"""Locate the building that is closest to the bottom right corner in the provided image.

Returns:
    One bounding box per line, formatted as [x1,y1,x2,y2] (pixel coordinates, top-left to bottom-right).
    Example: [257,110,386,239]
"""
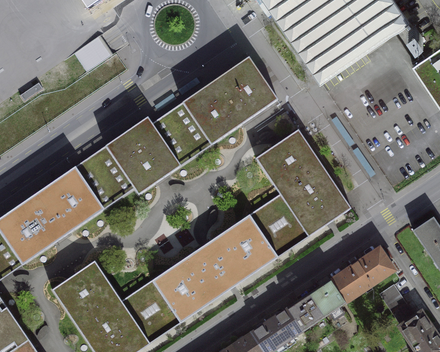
[398,309,440,352]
